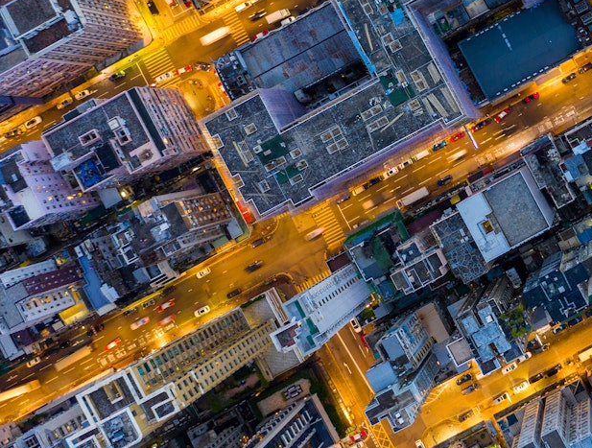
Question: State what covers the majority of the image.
buildings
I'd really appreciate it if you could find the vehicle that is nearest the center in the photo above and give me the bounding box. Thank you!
[304,227,323,240]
